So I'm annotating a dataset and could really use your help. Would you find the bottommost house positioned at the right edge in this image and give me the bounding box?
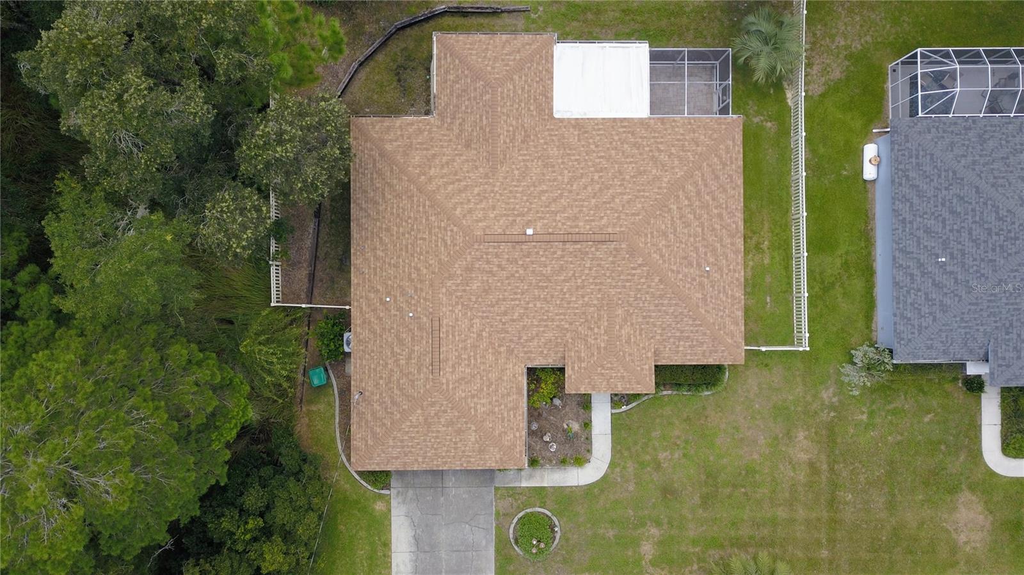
[875,117,1024,387]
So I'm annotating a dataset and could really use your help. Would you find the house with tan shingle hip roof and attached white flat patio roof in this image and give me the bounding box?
[351,30,744,471]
